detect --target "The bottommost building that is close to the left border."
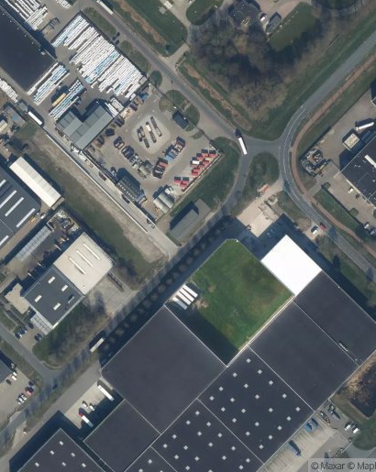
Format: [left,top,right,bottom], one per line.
[15,427,104,472]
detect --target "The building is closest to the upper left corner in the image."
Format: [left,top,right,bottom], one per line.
[0,7,56,92]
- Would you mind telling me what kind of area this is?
industrial area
